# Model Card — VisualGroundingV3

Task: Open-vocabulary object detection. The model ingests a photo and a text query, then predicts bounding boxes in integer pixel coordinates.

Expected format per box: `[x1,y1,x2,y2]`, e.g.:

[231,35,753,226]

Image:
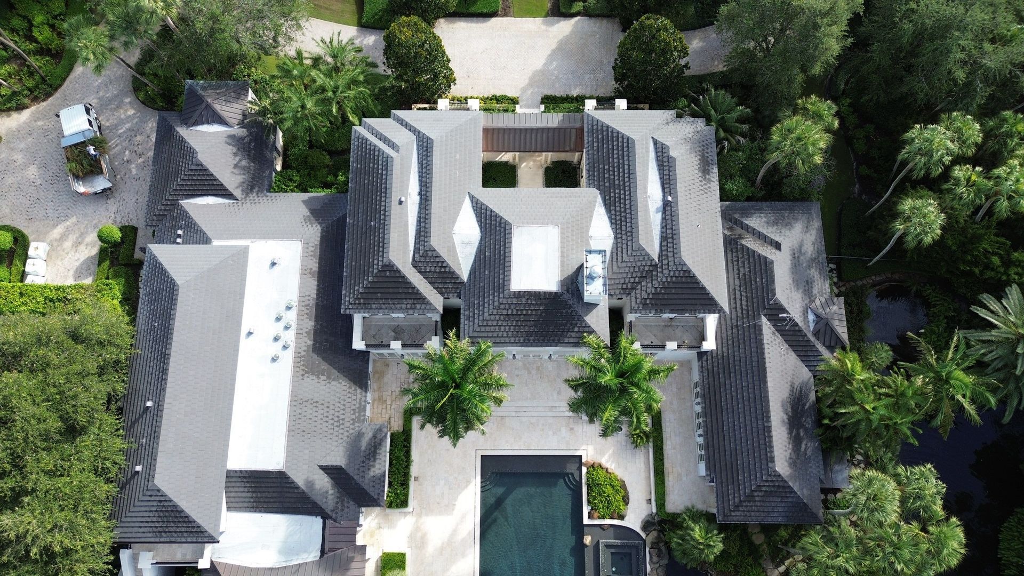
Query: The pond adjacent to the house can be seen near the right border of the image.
[858,282,1024,576]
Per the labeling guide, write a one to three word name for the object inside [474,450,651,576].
swimming pool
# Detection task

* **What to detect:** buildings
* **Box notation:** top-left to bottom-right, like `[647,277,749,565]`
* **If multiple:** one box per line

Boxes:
[109,79,848,576]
